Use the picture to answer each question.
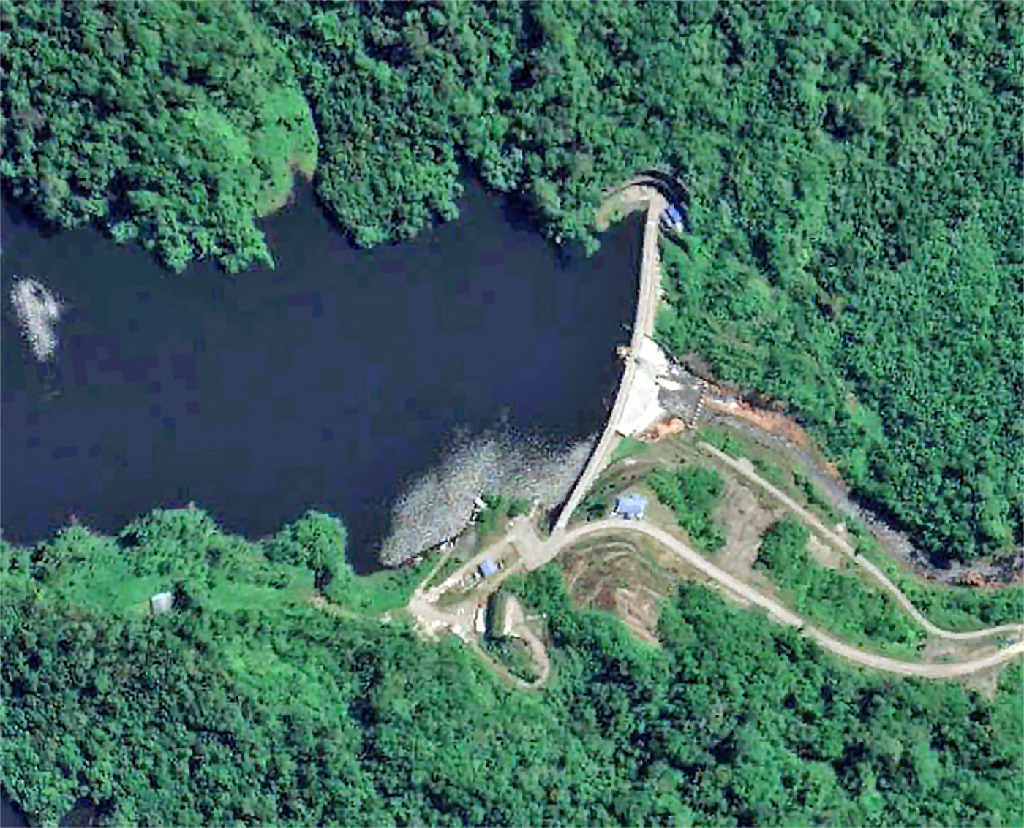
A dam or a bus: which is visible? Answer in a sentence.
There is a dam in the scene.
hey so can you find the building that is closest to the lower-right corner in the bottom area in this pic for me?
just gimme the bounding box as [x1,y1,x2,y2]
[616,497,646,519]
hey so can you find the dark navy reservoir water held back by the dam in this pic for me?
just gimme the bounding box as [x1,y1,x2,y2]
[0,173,647,580]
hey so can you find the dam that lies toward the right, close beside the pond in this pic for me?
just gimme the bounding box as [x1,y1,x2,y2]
[553,202,721,538]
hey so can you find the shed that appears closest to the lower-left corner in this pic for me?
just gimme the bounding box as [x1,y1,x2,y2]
[152,592,173,612]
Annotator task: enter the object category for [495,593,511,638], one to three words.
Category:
shed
